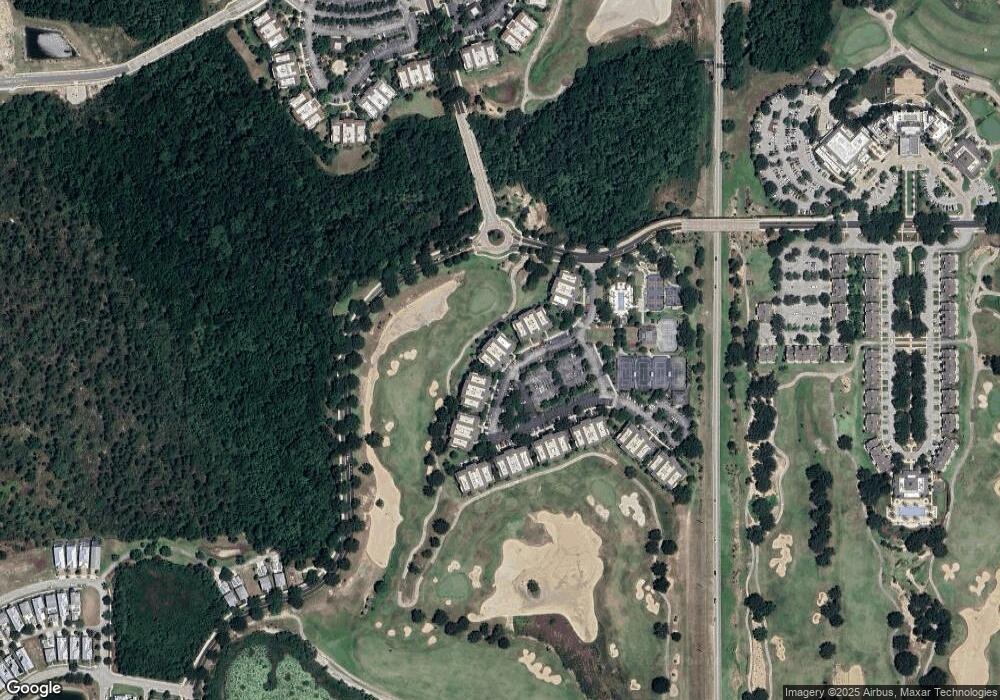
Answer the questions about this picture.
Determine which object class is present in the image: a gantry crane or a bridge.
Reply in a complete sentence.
Looking from above, you can make out a bridge.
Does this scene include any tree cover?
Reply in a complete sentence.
Yes, tree cover can be seen from above here.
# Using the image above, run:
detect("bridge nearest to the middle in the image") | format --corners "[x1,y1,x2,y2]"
[455,108,496,224]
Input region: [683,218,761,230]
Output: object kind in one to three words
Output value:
bridge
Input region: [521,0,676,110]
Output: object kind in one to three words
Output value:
golf course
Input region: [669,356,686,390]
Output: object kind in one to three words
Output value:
tennis court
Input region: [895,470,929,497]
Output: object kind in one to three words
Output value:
building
